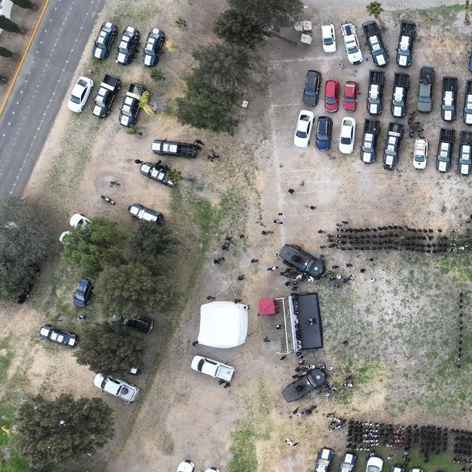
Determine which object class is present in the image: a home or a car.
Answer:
car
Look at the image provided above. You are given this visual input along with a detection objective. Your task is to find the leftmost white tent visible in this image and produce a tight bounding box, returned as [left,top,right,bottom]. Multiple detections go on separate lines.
[198,283,257,368]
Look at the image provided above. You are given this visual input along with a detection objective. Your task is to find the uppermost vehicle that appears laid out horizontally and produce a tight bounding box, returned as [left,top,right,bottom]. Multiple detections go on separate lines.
[151,139,200,159]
